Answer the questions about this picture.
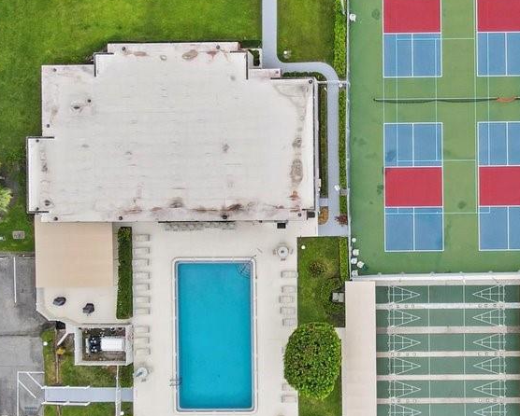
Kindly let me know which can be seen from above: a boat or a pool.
pool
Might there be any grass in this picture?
Yes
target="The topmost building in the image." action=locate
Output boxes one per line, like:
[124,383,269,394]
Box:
[26,42,319,223]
